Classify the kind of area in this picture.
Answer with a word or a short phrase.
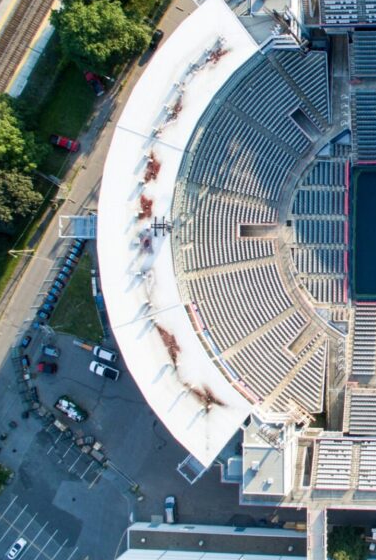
sports ground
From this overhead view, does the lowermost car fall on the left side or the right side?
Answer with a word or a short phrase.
left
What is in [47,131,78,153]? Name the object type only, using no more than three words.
truck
